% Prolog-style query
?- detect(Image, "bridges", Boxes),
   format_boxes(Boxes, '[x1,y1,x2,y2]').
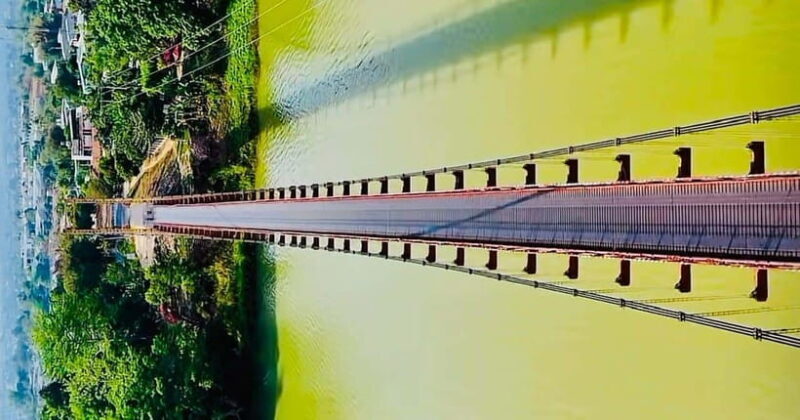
[66,104,800,346]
